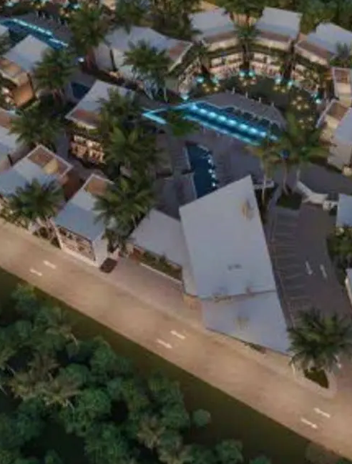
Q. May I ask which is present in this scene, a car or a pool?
pool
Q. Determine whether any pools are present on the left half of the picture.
Yes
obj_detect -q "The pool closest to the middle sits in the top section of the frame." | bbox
[187,144,220,200]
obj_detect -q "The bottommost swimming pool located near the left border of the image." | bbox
[0,19,72,55]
